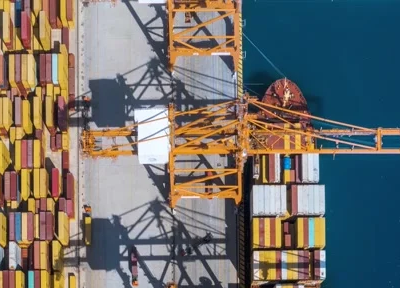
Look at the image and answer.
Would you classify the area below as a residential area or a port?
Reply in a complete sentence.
This looks like a port.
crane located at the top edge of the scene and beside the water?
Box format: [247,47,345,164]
[134,0,249,77]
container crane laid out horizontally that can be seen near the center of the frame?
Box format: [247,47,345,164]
[79,86,400,214]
